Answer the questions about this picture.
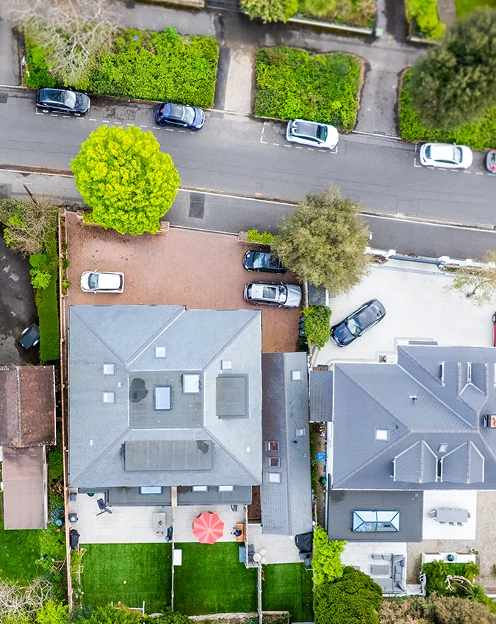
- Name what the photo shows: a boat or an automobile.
automobile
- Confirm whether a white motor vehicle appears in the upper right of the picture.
Yes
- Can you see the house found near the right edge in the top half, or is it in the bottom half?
bottom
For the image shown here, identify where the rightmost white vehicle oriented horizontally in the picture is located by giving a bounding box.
[417,143,472,171]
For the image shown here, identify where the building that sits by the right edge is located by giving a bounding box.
[308,341,496,541]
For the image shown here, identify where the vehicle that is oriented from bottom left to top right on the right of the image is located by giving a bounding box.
[331,297,388,346]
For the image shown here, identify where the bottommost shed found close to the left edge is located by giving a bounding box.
[2,446,49,530]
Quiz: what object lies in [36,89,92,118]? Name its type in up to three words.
car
